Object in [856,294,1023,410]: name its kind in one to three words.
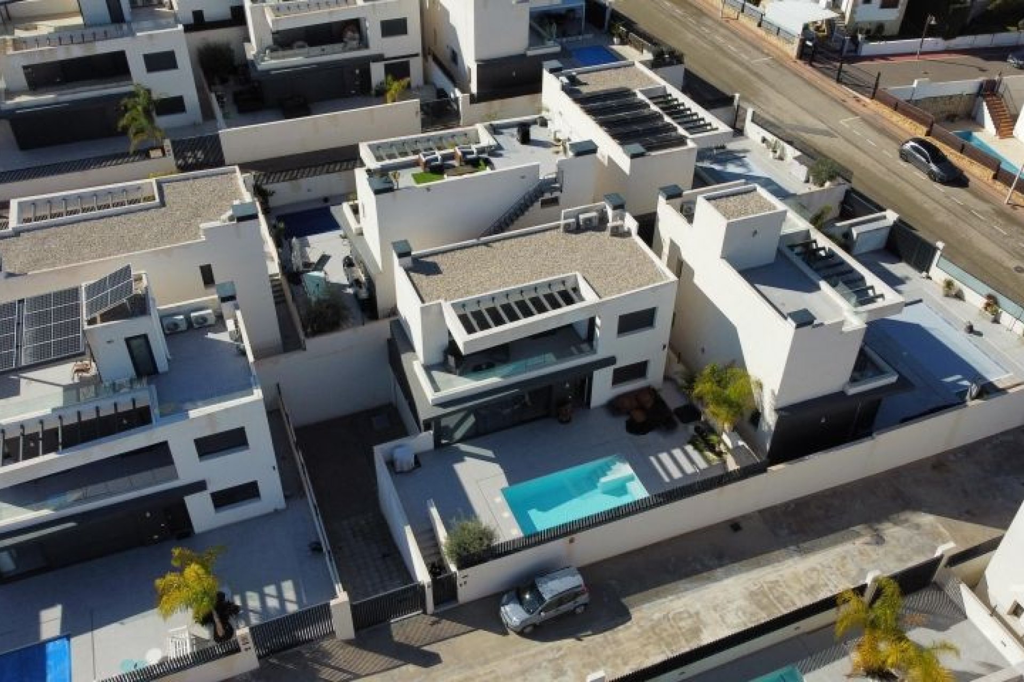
swimming pool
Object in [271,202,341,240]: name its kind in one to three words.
swimming pool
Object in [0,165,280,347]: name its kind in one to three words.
house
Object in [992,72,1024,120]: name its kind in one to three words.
house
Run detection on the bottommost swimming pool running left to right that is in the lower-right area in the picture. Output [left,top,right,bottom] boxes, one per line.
[713,652,811,682]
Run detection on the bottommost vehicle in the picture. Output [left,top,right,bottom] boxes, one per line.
[498,563,593,635]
